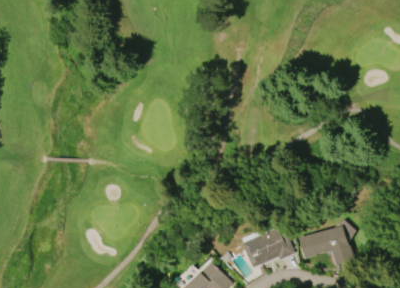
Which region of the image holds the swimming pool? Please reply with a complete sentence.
The swimming pool is in the bottom part of the image.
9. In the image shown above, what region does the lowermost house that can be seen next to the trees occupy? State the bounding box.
[177,258,236,288]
